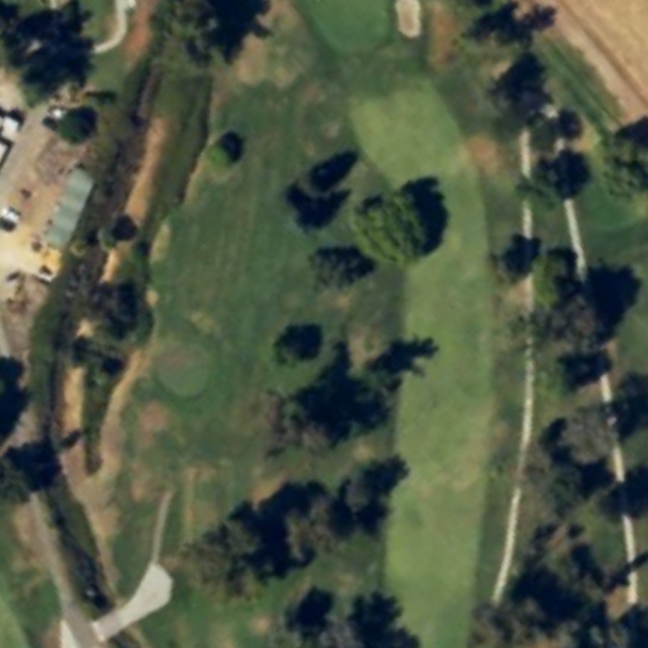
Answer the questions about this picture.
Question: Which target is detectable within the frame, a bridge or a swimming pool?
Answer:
bridge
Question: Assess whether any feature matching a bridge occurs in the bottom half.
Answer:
Yes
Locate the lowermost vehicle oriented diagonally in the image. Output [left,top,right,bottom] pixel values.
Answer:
[37,266,58,282]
